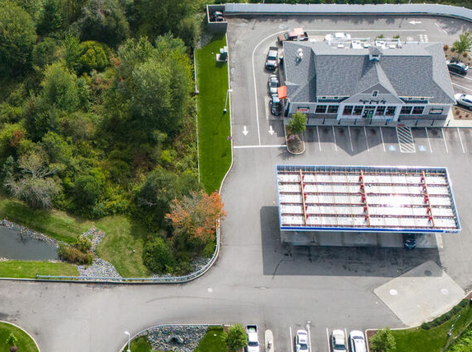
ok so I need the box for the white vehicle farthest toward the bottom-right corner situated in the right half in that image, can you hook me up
[350,332,367,352]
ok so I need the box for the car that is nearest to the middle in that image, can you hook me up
[270,96,283,115]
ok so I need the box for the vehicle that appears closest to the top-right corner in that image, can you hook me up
[445,60,471,75]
